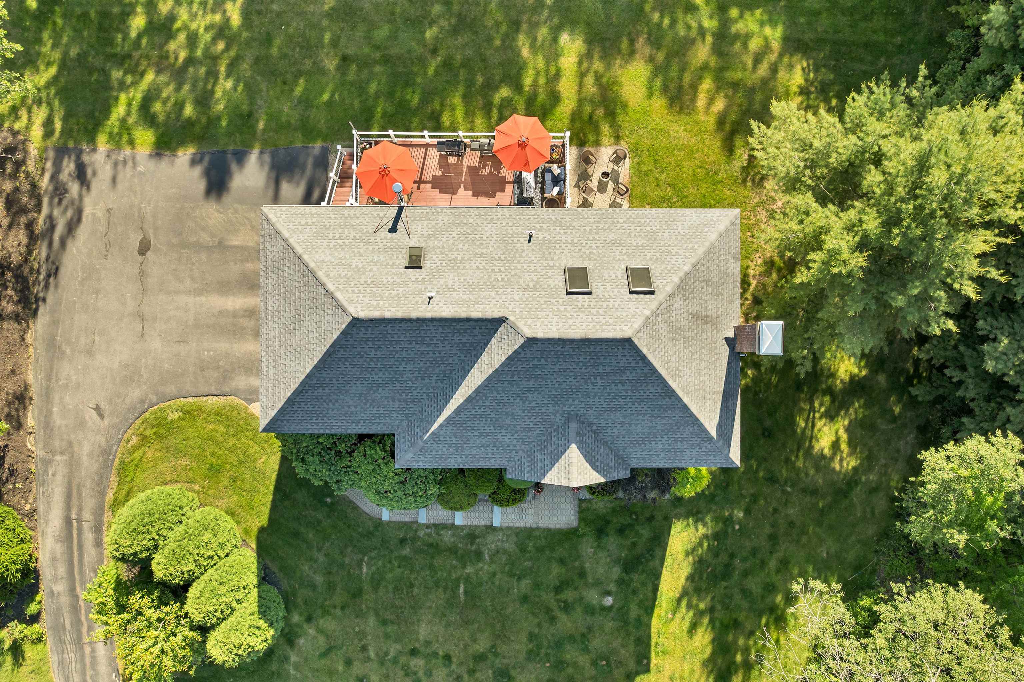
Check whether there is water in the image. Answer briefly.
No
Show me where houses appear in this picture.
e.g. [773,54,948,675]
[258,185,781,487]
